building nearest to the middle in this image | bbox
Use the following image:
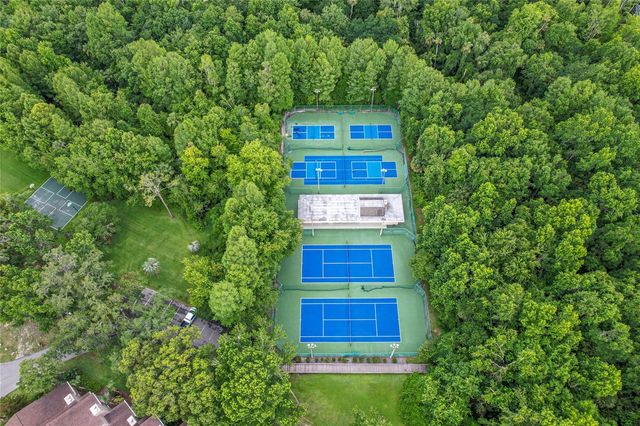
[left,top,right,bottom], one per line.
[298,194,404,229]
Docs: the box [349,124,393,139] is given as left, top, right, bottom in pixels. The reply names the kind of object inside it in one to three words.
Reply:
sports court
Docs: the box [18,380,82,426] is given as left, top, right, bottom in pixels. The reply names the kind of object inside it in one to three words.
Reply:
house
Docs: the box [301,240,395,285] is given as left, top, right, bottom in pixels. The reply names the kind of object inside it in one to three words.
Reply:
tennis court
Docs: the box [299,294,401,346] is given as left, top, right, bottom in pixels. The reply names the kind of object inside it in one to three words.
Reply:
tennis court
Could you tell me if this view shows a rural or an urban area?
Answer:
rural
